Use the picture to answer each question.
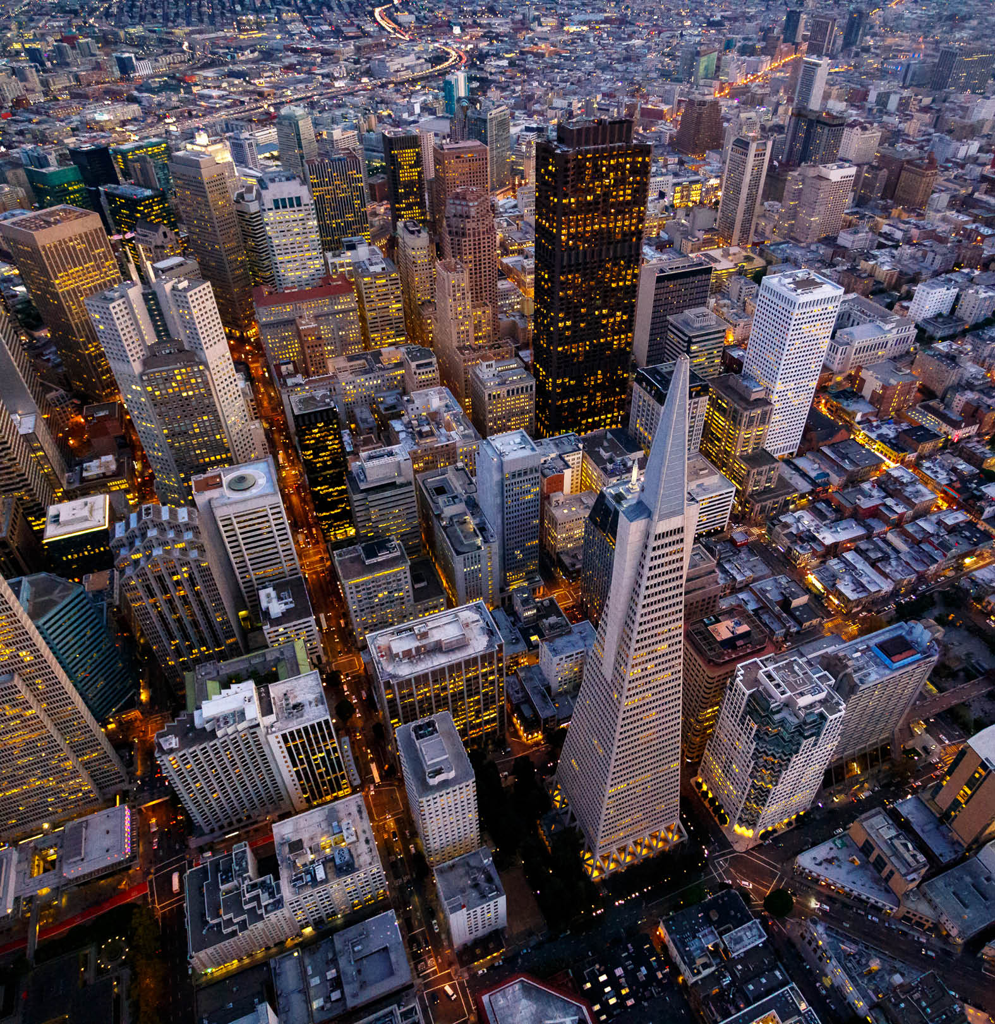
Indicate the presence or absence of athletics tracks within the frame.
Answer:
No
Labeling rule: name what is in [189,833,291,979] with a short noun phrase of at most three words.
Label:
building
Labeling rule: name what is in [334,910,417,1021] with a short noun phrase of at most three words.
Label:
building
